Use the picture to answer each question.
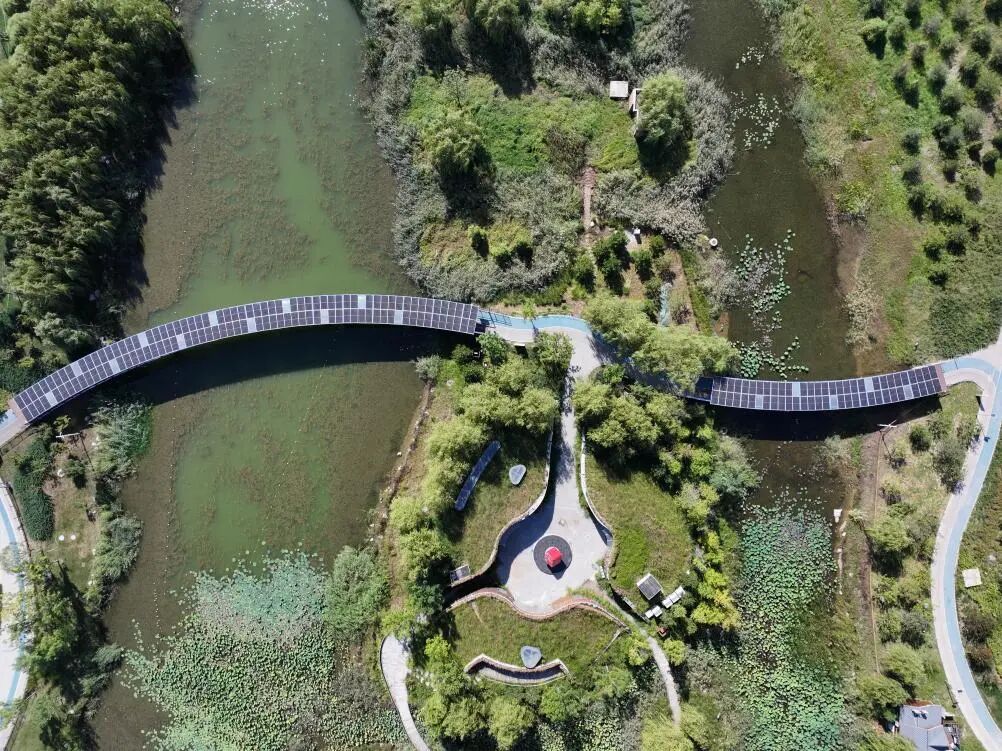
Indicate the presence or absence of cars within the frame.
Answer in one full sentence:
No, no car is visible in the view.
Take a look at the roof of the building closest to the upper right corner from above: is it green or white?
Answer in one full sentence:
The roof of the building closest to the upper right corner is white.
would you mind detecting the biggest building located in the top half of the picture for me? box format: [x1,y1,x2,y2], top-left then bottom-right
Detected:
[607,81,628,105]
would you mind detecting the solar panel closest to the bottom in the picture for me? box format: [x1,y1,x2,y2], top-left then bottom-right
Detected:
[638,575,660,597]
